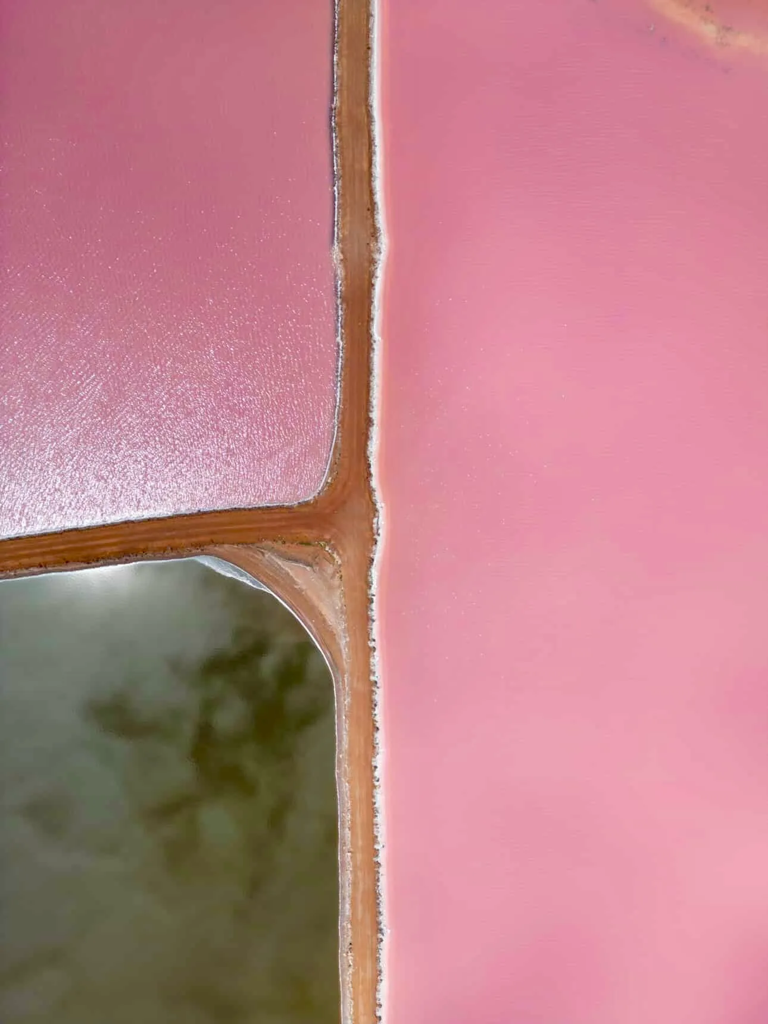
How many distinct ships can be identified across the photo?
none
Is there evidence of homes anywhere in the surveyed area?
No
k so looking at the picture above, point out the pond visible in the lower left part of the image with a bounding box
[0,557,342,1024]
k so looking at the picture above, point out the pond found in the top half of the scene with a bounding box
[0,0,340,538]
